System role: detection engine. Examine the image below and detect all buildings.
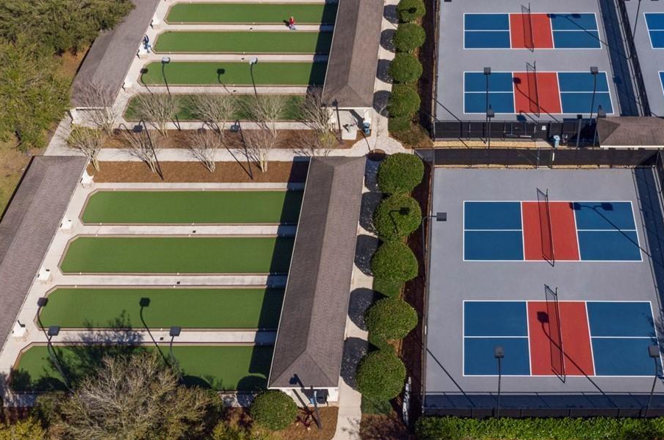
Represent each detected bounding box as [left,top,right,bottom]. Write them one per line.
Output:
[319,0,388,131]
[595,116,664,149]
[0,154,94,357]
[63,0,174,131]
[266,155,367,402]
